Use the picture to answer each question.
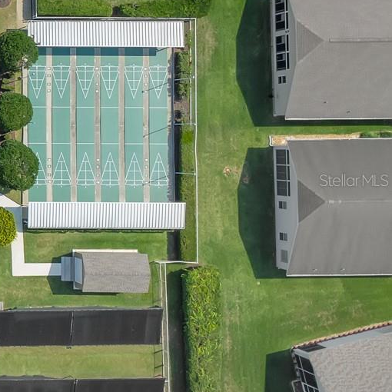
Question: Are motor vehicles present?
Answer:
No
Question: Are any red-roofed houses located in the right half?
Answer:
No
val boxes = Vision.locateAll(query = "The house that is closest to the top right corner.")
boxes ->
[273,0,392,120]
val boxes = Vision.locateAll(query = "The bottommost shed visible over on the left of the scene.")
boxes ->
[60,249,153,294]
